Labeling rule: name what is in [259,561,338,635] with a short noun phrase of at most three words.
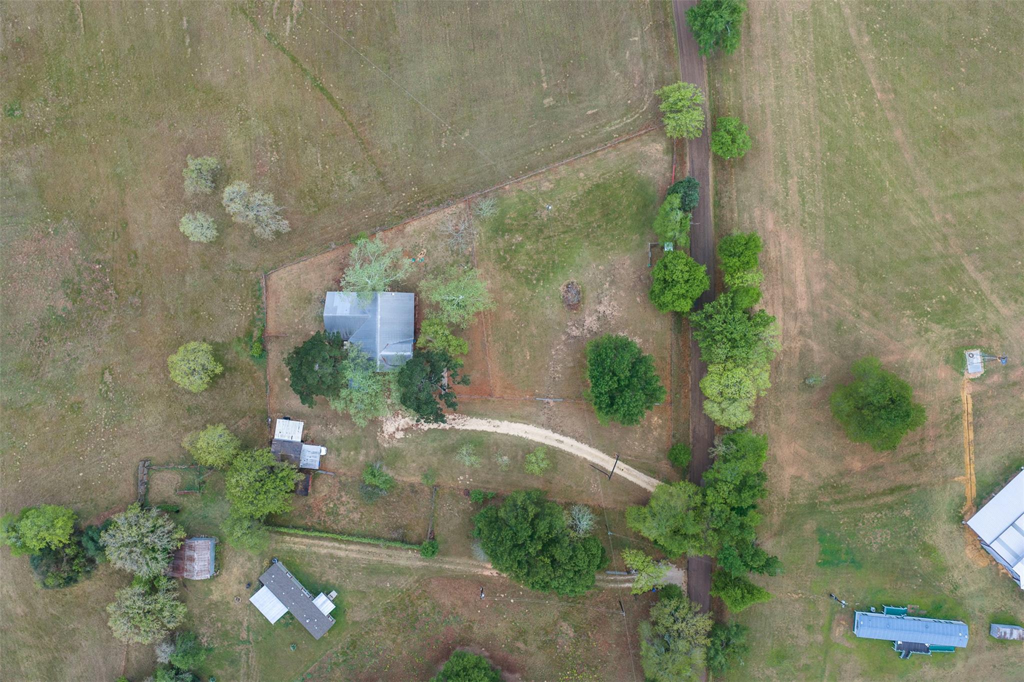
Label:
house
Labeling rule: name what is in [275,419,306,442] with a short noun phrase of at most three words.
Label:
shed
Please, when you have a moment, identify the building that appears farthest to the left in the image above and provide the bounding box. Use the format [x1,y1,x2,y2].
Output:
[166,536,215,579]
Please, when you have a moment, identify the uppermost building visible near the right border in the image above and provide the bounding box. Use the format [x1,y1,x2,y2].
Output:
[960,470,1024,583]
